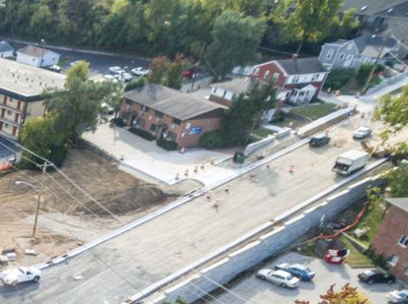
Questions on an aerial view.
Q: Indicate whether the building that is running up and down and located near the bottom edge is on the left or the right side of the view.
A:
right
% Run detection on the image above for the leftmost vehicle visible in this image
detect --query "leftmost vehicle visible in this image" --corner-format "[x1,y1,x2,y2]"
[0,264,46,287]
